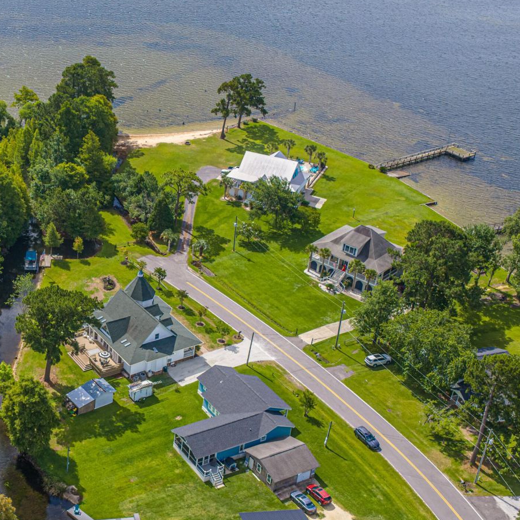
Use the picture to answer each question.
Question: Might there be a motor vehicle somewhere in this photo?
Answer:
Yes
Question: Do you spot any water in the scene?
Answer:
Yes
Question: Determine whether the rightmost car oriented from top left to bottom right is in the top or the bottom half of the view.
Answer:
bottom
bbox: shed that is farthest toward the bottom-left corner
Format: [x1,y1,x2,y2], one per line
[66,378,116,414]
